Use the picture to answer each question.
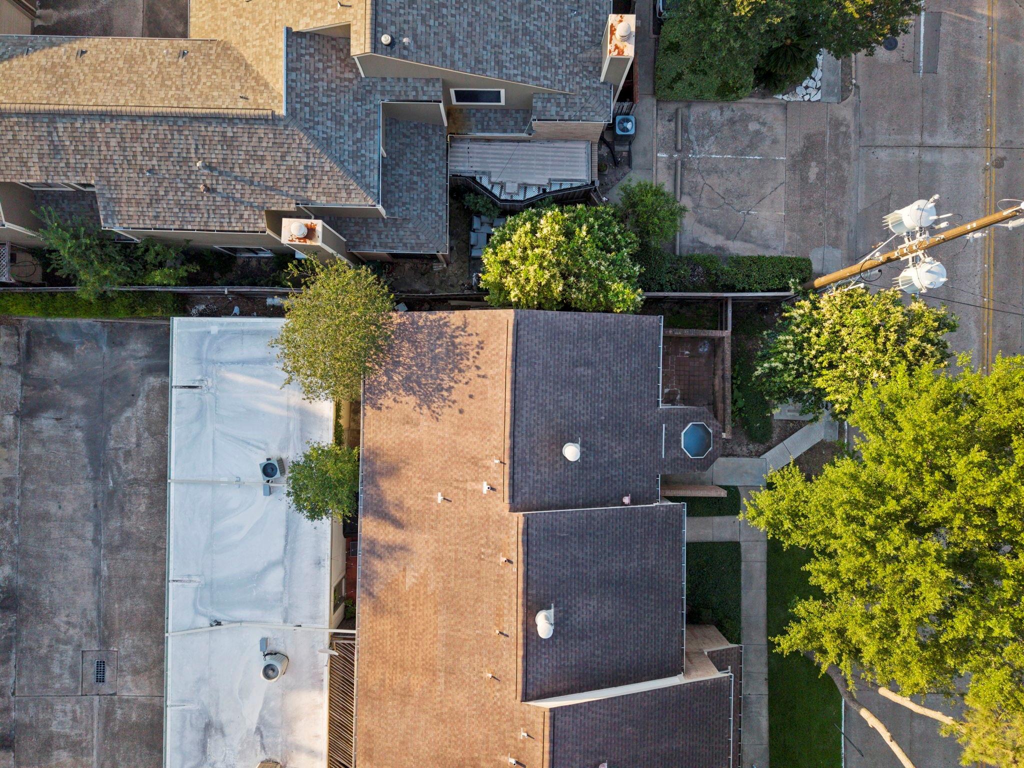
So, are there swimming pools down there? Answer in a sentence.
No, the scene contains no swimming pool.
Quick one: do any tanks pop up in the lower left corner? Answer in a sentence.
No, looking in the lower left corner, there is no tank.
